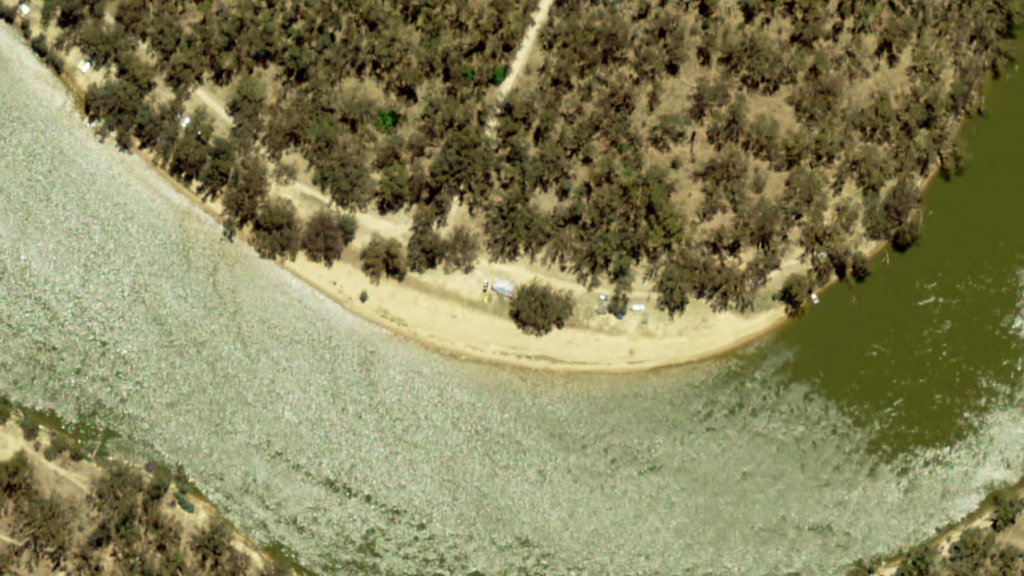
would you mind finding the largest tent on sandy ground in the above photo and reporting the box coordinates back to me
[492,277,513,297]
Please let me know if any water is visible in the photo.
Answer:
Yes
